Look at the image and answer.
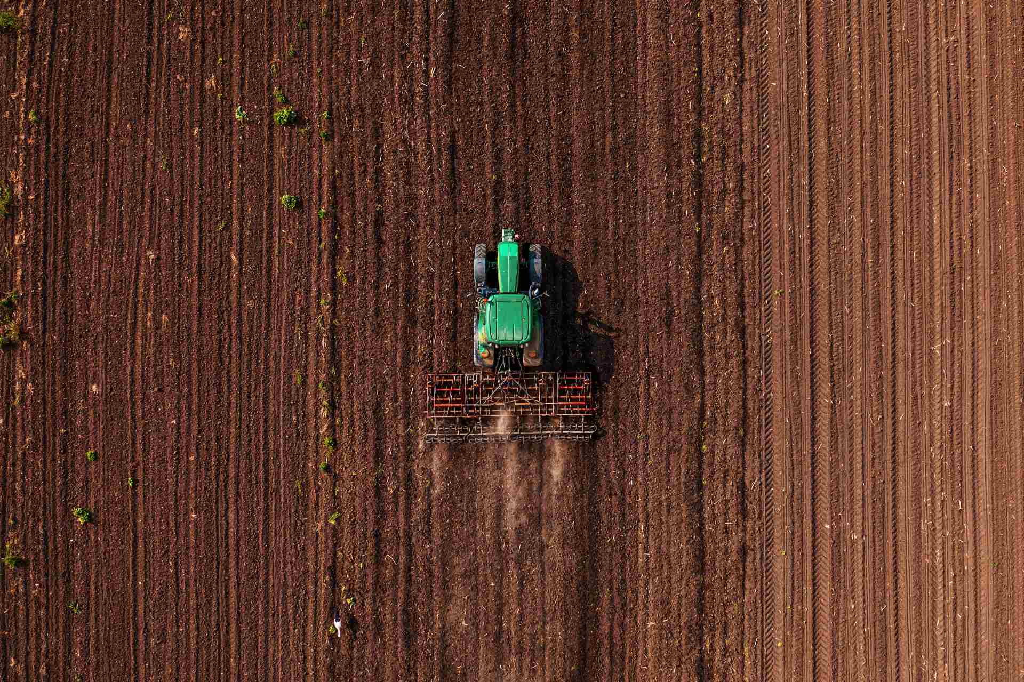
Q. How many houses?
0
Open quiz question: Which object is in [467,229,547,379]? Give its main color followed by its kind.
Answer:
green work vehicle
